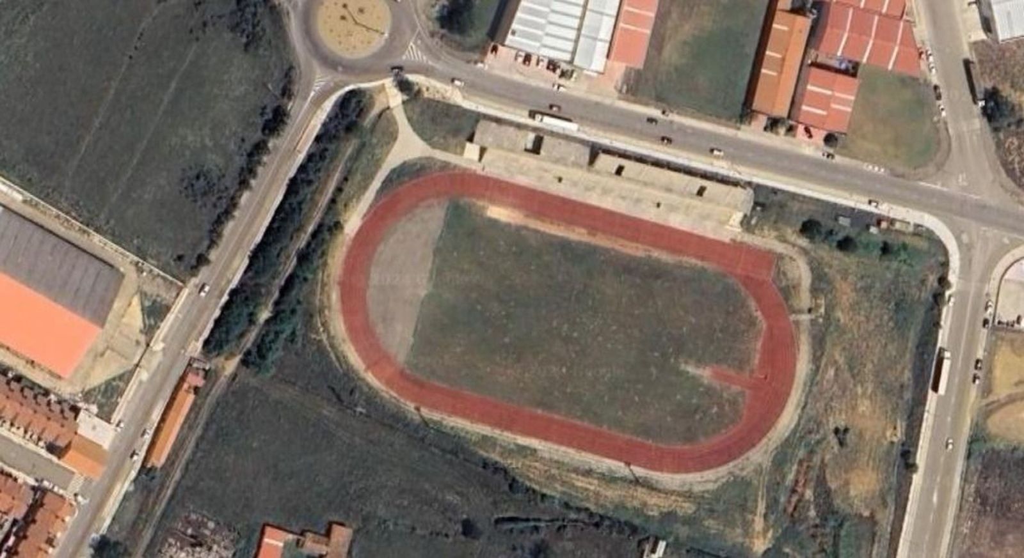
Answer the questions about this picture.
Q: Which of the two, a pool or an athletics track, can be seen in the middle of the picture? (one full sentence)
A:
Looking in the middle of the picture, you will find an athletics track.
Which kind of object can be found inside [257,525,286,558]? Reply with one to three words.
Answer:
house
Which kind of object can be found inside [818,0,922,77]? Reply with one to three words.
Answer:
building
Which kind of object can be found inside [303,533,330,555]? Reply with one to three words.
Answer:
shed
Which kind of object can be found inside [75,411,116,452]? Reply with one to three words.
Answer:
building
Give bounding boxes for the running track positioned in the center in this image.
[339,172,797,475]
